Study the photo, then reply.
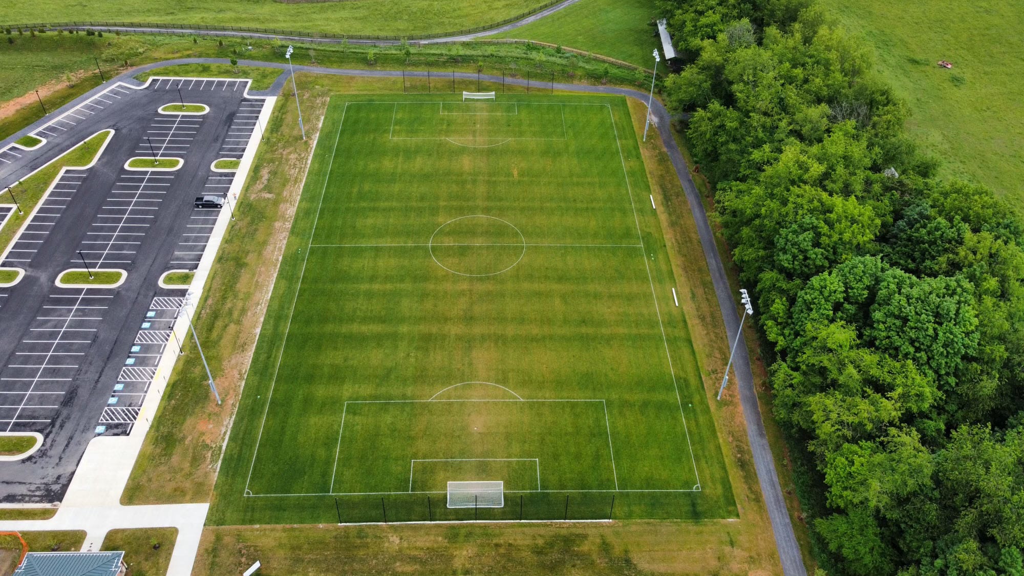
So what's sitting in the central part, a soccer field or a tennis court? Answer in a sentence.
Visible in the central part is a soccer field.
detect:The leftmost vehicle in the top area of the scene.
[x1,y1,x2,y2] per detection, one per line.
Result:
[193,195,226,207]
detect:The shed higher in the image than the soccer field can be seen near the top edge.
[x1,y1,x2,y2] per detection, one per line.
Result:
[659,19,679,64]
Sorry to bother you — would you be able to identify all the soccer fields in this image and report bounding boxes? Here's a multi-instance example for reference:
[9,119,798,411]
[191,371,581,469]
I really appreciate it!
[204,94,739,525]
